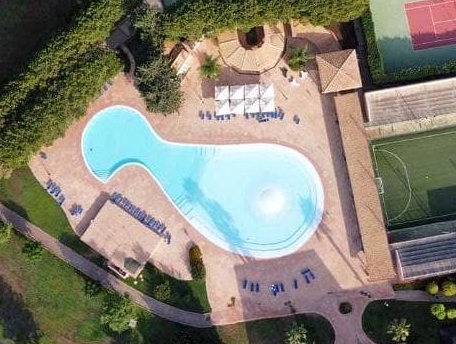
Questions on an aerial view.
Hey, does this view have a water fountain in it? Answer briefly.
Yes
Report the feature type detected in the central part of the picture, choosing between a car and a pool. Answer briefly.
pool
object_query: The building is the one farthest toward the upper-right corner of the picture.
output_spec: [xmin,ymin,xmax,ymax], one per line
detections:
[316,49,363,94]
